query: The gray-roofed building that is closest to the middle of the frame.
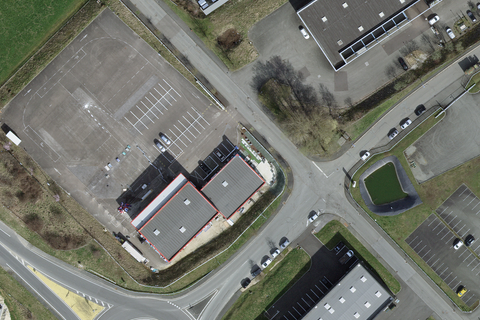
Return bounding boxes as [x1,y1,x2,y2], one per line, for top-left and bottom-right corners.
[202,154,266,218]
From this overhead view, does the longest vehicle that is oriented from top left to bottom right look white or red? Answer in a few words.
white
